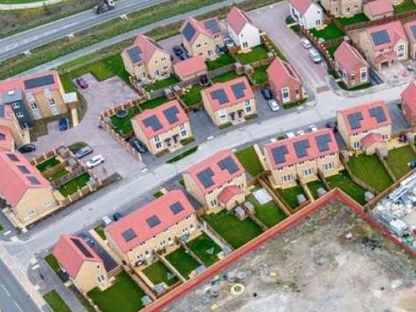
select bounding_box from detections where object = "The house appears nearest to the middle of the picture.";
[175,148,244,206]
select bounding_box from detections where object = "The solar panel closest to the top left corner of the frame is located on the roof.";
[26,74,58,91]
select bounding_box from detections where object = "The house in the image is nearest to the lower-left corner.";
[47,234,113,296]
